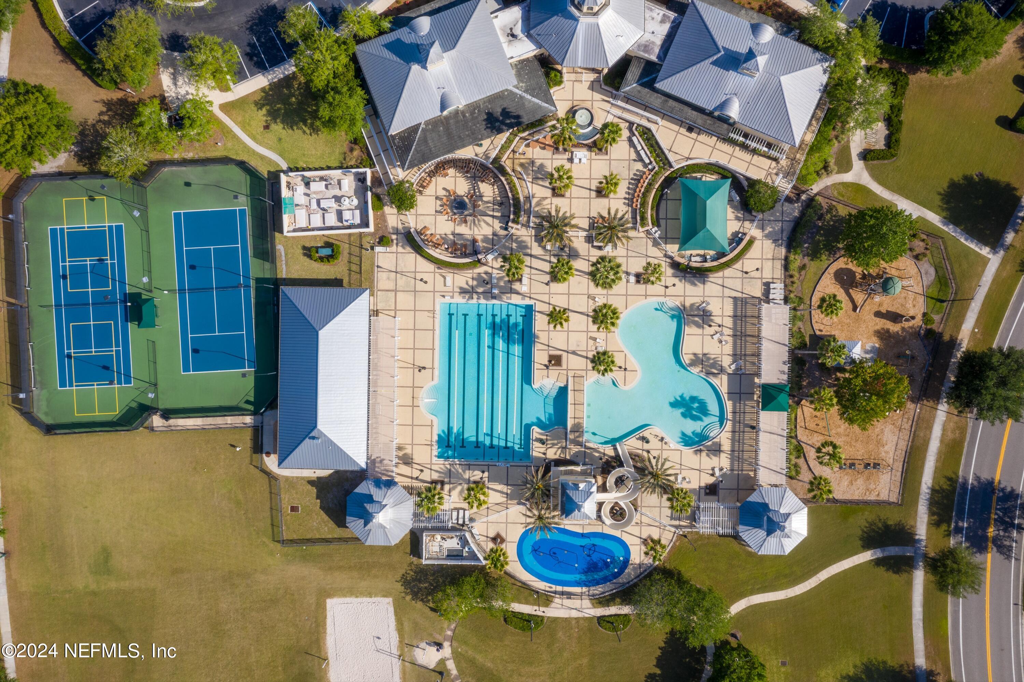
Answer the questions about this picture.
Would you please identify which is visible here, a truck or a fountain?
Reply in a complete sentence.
The image shows a fountain.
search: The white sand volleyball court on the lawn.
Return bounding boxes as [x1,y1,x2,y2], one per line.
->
[321,598,402,682]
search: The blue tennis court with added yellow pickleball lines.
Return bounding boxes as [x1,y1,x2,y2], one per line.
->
[23,178,159,432]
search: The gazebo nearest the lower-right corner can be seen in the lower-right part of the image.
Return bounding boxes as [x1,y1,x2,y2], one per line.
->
[734,484,807,555]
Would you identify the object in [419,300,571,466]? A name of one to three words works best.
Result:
swimming pool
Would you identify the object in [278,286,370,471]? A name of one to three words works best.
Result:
building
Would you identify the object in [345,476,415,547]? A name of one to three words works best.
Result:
gazebo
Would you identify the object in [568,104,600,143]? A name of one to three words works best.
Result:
fountain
